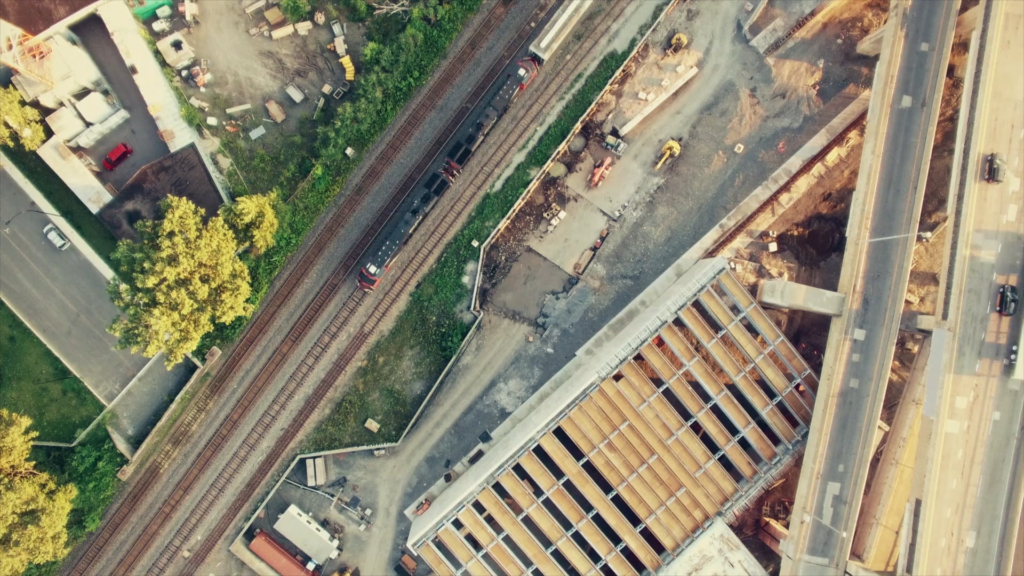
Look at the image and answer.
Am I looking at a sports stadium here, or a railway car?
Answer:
railway car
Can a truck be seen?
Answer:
Yes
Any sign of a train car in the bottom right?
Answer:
No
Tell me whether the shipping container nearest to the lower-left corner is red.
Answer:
Yes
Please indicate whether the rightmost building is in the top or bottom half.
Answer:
bottom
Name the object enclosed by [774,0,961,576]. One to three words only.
overpass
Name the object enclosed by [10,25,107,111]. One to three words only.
building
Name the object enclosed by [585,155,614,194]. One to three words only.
work vehicle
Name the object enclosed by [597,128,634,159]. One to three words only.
truck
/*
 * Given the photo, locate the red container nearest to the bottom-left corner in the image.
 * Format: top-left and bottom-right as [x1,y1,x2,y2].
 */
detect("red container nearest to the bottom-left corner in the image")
[240,527,319,576]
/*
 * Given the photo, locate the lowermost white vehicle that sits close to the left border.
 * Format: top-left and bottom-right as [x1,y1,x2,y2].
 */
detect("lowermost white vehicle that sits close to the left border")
[41,221,68,252]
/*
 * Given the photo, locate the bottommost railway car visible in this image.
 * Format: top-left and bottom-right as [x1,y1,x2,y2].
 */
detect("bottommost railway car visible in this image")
[358,167,459,295]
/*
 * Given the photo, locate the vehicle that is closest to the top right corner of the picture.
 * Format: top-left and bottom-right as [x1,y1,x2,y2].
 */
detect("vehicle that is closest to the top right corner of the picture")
[987,149,1011,186]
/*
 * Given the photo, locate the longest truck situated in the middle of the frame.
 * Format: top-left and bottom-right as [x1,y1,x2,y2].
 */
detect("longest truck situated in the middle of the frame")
[575,217,619,276]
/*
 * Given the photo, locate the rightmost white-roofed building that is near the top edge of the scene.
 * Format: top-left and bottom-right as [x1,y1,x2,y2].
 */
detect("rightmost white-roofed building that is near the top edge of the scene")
[97,1,233,211]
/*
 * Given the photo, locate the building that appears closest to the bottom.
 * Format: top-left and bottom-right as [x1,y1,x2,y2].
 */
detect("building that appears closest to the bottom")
[268,501,344,569]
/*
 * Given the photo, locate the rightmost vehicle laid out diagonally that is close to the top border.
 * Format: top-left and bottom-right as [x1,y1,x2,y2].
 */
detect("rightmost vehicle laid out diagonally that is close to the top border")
[662,27,693,58]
